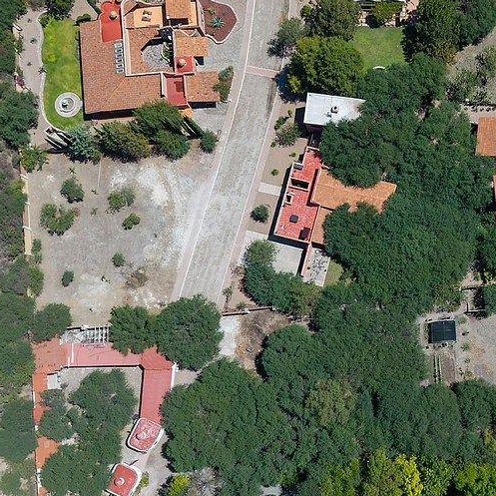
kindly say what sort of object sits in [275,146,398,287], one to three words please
house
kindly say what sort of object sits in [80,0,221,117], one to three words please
house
